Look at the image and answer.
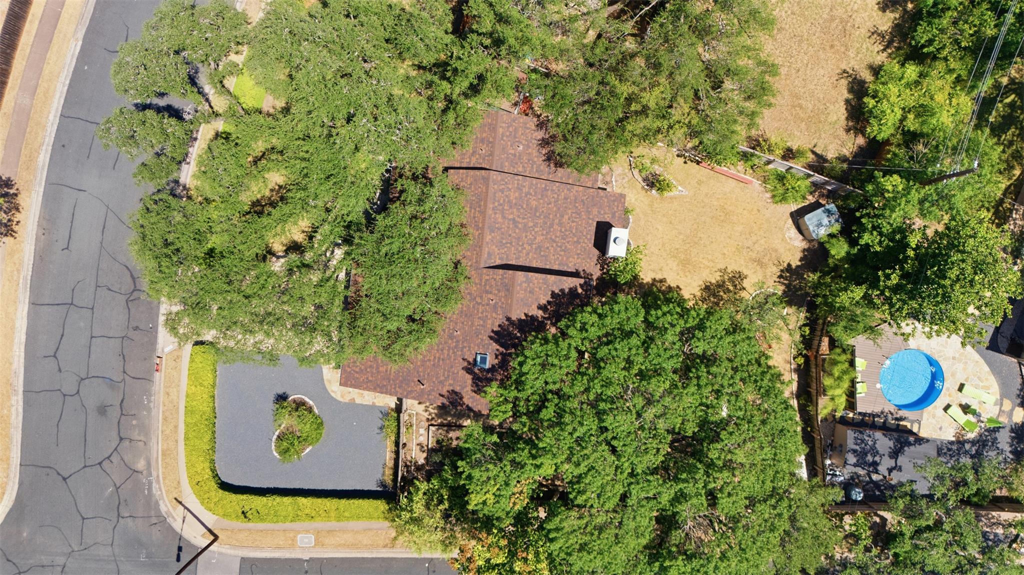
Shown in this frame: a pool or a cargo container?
pool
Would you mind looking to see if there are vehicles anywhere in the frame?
No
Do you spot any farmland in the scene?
No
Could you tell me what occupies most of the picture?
trees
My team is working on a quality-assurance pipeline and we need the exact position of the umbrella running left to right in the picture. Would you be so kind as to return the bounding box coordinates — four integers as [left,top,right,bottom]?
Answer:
[974,413,1008,426]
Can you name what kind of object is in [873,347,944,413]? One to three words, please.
swimming pool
